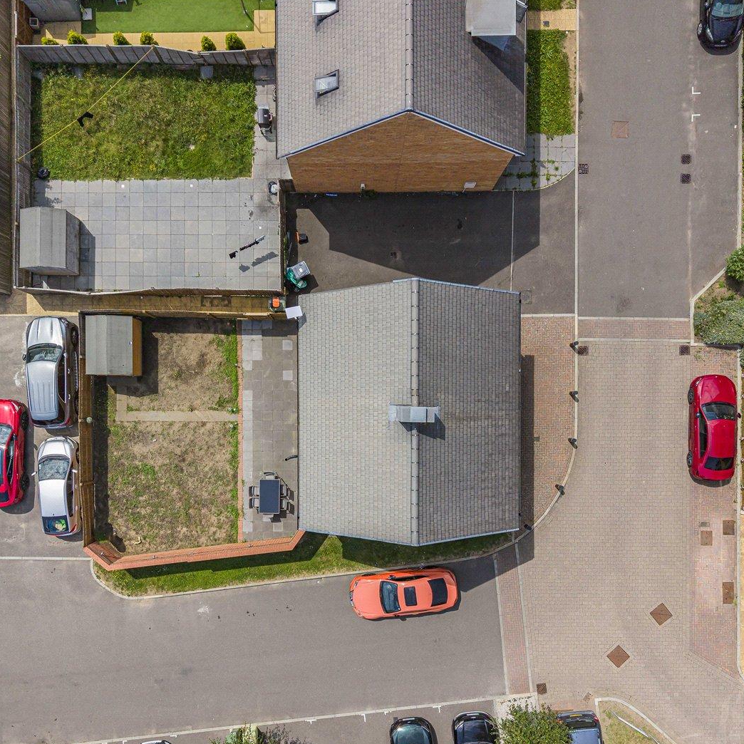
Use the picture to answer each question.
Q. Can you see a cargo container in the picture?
No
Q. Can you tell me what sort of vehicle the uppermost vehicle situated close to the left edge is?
automobile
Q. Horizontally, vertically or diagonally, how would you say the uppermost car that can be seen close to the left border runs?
vertically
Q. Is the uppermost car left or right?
right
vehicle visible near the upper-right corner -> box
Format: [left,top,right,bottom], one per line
[701,0,744,50]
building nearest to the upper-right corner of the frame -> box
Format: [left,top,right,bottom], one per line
[274,0,528,193]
